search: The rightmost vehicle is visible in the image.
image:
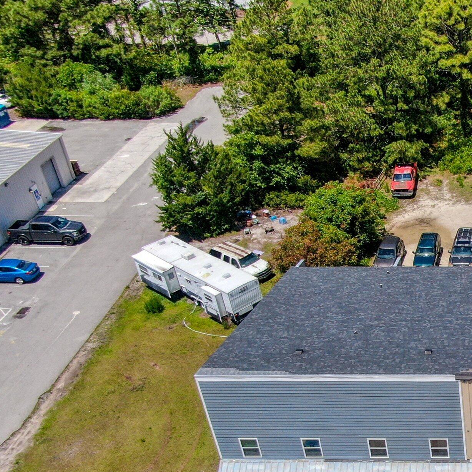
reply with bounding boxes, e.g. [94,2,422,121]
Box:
[448,229,472,267]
